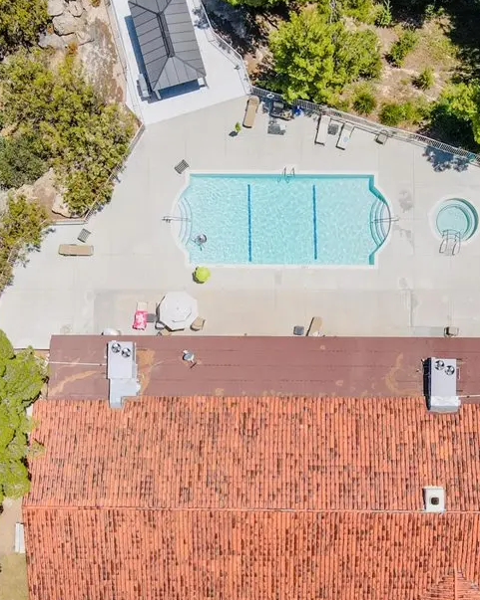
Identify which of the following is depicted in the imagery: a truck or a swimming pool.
swimming pool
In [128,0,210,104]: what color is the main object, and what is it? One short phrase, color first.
gray gazebo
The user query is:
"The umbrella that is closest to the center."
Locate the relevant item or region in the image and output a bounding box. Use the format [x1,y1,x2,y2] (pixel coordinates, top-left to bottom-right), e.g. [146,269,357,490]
[193,267,208,281]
